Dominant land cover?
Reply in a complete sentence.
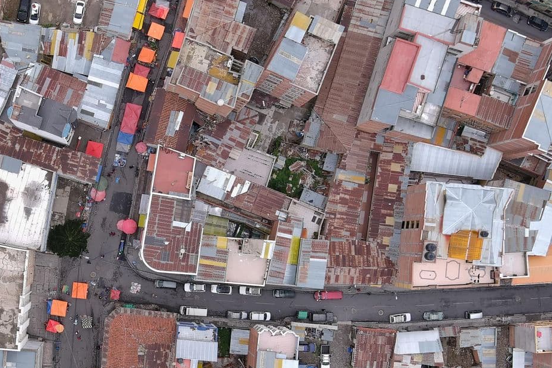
The scene is dominated by buildings.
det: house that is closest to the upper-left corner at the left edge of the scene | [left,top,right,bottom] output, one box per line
[0,25,42,74]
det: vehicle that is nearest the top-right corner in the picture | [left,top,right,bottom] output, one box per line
[526,16,550,30]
